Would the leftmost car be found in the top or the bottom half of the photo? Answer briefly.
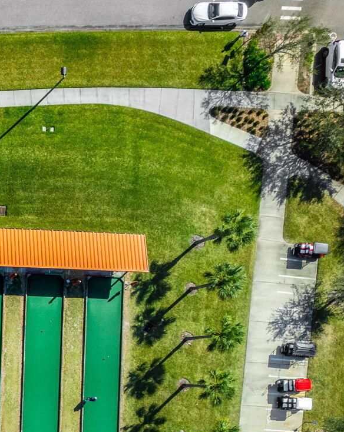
top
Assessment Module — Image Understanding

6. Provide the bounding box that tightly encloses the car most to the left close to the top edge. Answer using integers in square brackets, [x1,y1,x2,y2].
[191,1,245,28]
